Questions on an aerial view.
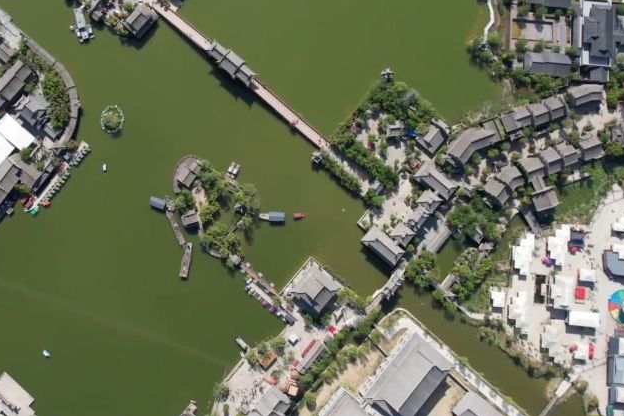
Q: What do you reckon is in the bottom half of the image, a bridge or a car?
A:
bridge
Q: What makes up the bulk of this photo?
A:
water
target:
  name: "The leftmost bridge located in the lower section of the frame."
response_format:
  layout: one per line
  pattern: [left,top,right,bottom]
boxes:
[366,256,413,313]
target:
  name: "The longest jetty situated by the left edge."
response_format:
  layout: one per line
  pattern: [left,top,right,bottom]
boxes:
[29,140,86,210]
